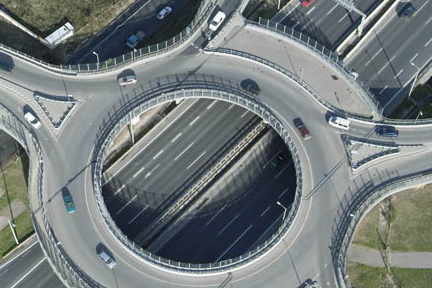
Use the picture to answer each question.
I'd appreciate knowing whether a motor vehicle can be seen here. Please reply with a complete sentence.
Yes, there is a motor vehicle in the image.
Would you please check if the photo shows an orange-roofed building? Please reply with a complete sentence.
No, there isn't any orange-roofed building down there.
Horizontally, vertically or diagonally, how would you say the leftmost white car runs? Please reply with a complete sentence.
What the image shows is the leftmost white car lying diagonally.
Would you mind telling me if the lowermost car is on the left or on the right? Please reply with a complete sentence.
It is on the left.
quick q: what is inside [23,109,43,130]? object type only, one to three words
car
